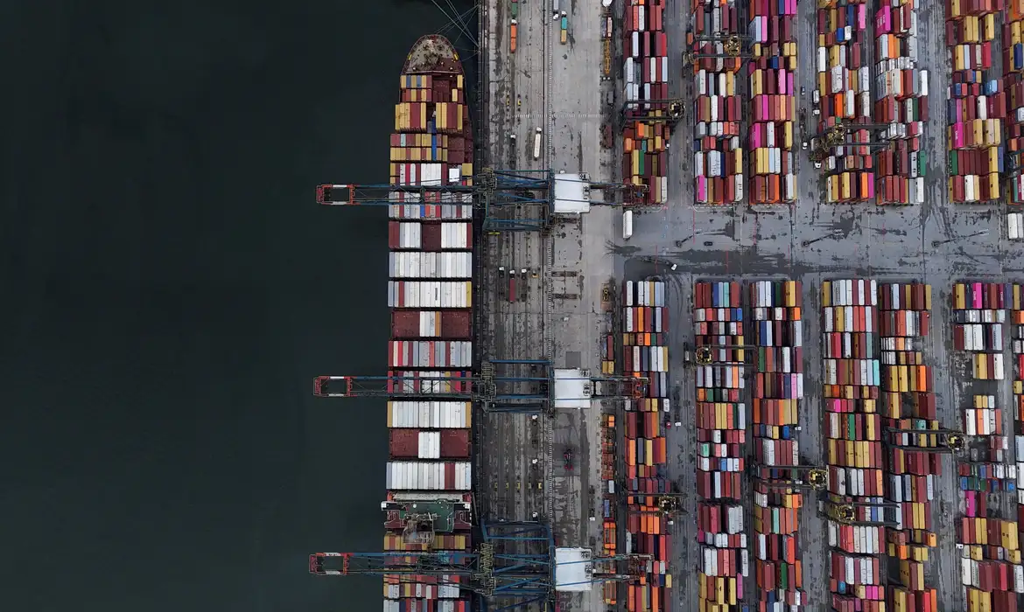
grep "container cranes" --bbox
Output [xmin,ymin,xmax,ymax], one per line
[862,418,967,452]
[313,347,657,416]
[681,340,759,370]
[679,34,756,79]
[311,503,659,597]
[809,487,901,528]
[618,478,691,515]
[805,122,894,162]
[617,97,688,137]
[740,453,828,488]
[316,165,655,245]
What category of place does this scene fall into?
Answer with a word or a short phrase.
port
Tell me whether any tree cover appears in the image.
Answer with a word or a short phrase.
No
